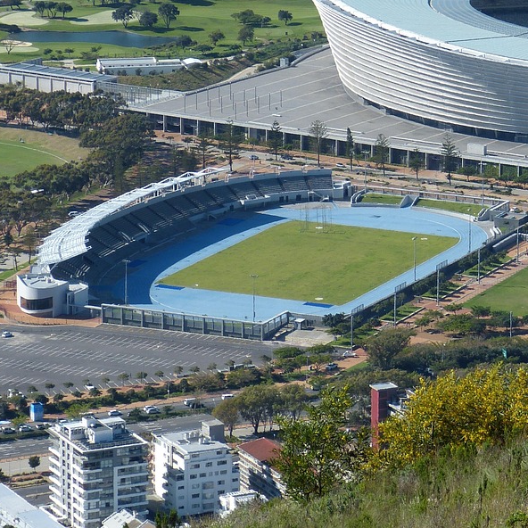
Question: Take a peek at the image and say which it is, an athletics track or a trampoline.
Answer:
athletics track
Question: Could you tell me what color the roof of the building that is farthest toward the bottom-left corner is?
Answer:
white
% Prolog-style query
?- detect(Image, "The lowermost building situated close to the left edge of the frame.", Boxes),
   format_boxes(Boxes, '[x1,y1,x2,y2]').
[0,482,56,528]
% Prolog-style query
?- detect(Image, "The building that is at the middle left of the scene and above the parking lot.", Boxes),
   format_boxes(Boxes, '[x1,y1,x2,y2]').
[16,266,106,314]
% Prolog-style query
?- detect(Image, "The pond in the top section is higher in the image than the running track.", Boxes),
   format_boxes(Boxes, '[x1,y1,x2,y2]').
[11,31,174,46]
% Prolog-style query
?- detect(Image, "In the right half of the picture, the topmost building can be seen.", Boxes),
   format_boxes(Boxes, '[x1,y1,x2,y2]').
[333,179,355,202]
